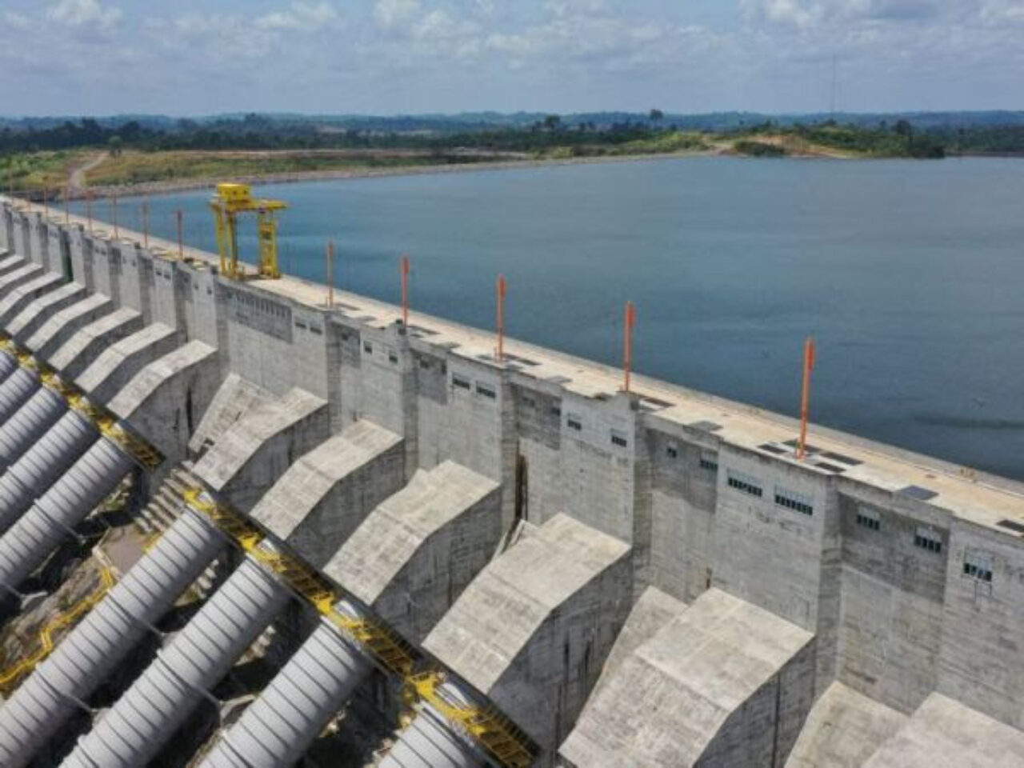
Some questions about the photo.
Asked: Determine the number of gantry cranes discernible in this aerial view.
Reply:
one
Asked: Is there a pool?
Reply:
No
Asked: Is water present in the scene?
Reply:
Yes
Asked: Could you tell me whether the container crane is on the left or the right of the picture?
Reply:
left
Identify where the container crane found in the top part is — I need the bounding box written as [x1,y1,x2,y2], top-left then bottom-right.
[201,184,293,277]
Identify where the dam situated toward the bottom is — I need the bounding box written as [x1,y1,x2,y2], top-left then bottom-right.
[0,193,1024,768]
